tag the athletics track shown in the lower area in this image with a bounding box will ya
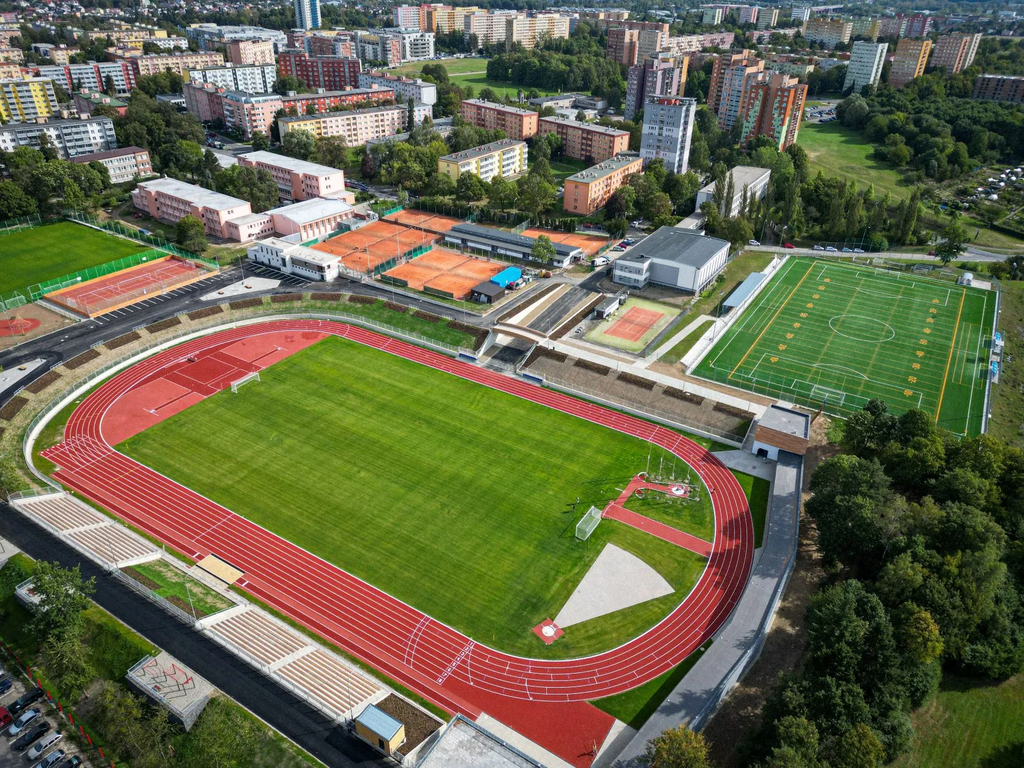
[37,319,754,768]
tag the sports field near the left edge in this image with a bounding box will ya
[0,209,150,308]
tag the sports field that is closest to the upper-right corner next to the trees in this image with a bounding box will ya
[688,256,997,438]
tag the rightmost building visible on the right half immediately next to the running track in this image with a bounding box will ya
[755,404,819,459]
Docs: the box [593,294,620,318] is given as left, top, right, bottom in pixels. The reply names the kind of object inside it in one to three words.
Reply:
shed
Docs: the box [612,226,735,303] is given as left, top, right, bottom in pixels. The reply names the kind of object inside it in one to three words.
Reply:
building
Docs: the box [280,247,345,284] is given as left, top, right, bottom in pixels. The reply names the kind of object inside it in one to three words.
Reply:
building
